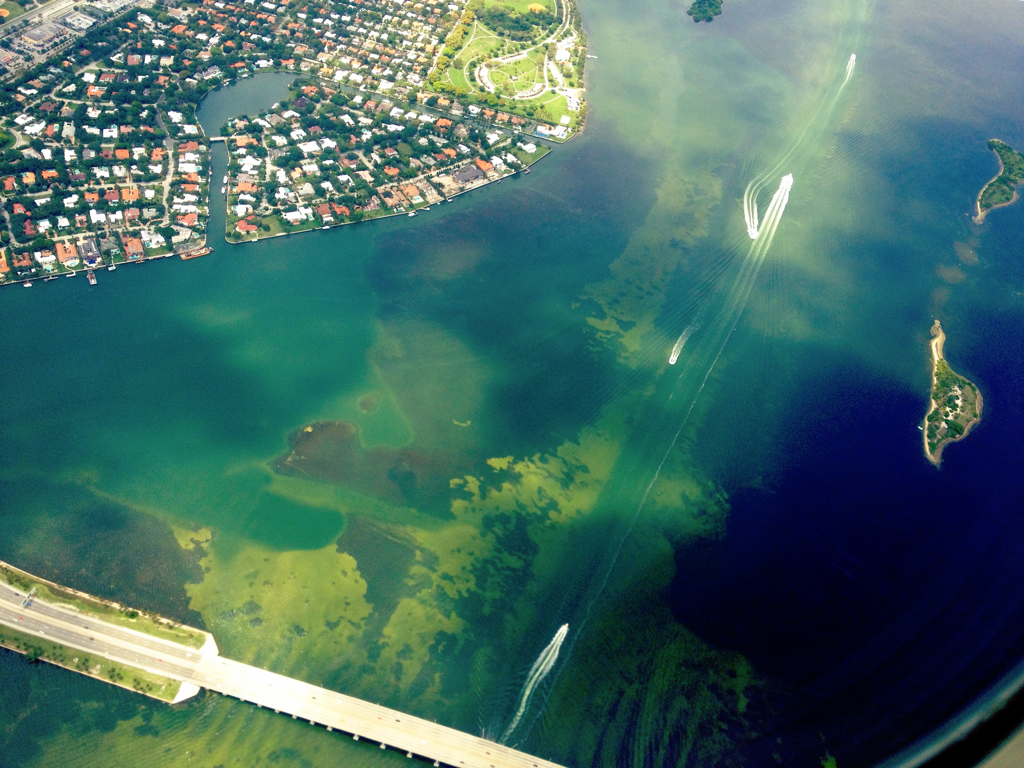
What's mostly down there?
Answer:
water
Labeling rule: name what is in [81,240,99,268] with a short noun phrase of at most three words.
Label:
house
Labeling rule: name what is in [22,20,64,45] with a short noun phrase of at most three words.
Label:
building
